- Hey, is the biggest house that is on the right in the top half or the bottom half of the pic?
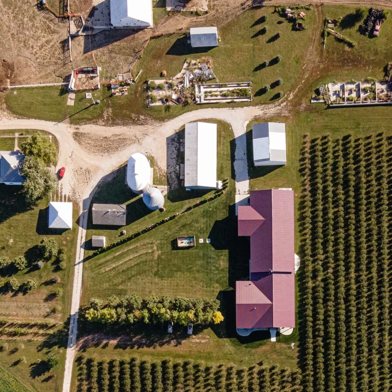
bottom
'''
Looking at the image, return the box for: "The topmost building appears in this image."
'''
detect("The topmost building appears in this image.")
[110,0,154,31]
